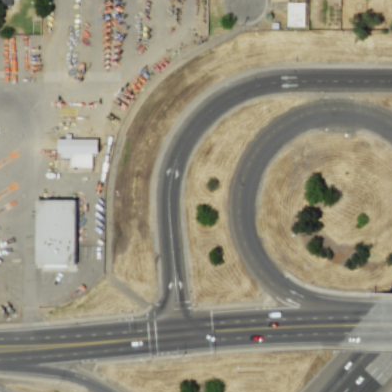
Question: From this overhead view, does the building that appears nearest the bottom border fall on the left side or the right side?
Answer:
left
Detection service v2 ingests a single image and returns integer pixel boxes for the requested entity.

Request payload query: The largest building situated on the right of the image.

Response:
[287,2,306,27]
